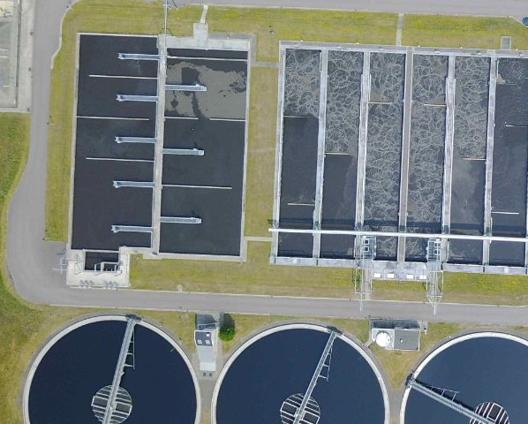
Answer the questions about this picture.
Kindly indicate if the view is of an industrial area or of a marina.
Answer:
industrial area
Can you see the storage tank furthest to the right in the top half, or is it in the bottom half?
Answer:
bottom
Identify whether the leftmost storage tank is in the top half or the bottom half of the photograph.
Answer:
bottom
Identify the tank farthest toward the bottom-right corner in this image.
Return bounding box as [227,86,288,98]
[395,326,528,424]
